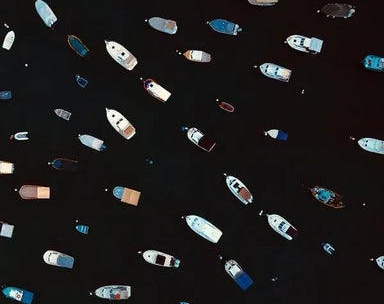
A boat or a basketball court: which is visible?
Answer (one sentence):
It is a boat that can be seen here.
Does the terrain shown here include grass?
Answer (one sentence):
No, the scene doesn't show any grass.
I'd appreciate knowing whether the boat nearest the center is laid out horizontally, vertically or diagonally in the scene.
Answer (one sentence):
From this overhead view, the boat nearest the center appears to run diagonally.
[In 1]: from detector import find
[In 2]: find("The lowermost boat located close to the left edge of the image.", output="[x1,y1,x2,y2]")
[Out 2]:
[2,288,32,304]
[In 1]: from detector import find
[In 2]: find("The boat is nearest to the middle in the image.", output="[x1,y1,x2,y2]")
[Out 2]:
[186,128,216,152]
